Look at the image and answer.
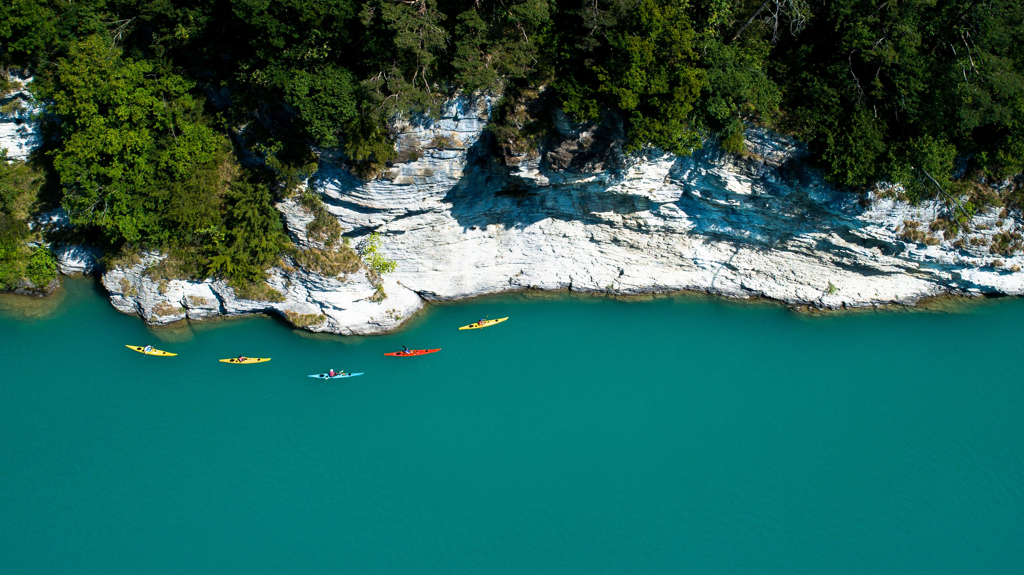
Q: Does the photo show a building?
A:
No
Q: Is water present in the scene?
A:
Yes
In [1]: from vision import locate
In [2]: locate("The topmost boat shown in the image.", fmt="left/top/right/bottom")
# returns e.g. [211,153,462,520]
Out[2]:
[459,317,509,330]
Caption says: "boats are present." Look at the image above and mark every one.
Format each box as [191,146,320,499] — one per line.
[459,317,509,330]
[384,349,441,357]
[308,372,364,379]
[220,358,271,364]
[126,346,178,356]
